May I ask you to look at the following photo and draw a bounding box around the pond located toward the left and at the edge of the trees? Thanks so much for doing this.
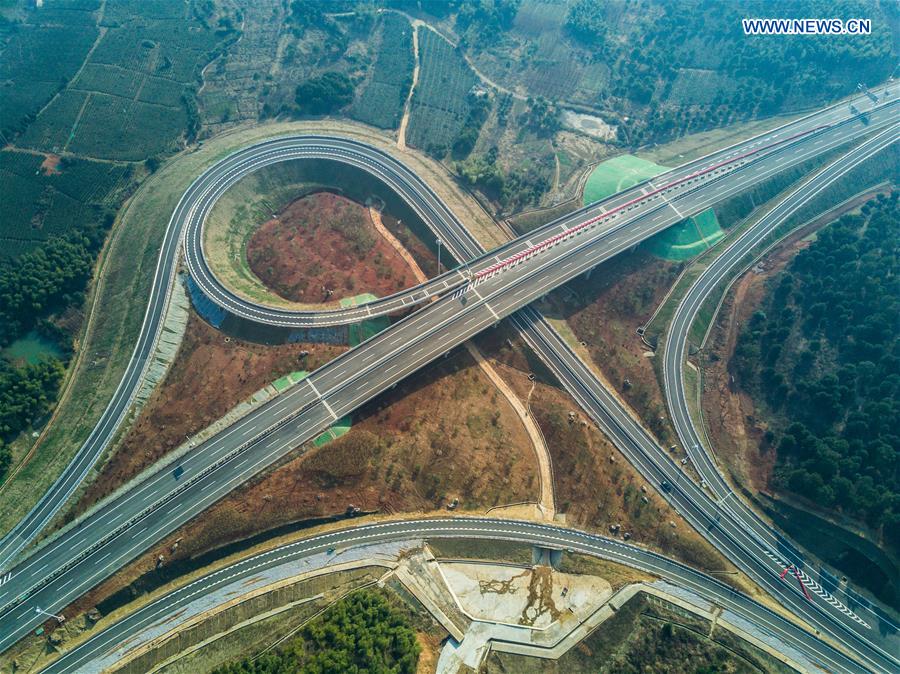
[0,337,67,373]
